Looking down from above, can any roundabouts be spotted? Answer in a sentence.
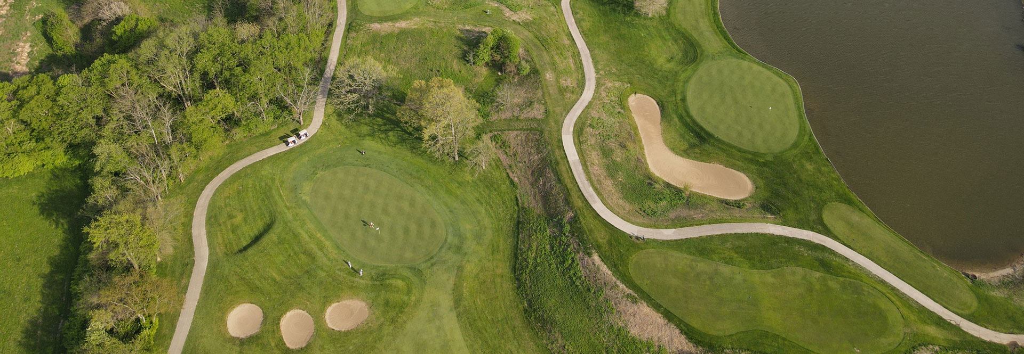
No, I can't see a single roundabout in this photo.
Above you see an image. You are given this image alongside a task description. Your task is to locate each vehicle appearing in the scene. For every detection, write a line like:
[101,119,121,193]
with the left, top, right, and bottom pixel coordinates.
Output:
[297,129,309,141]
[284,136,297,148]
